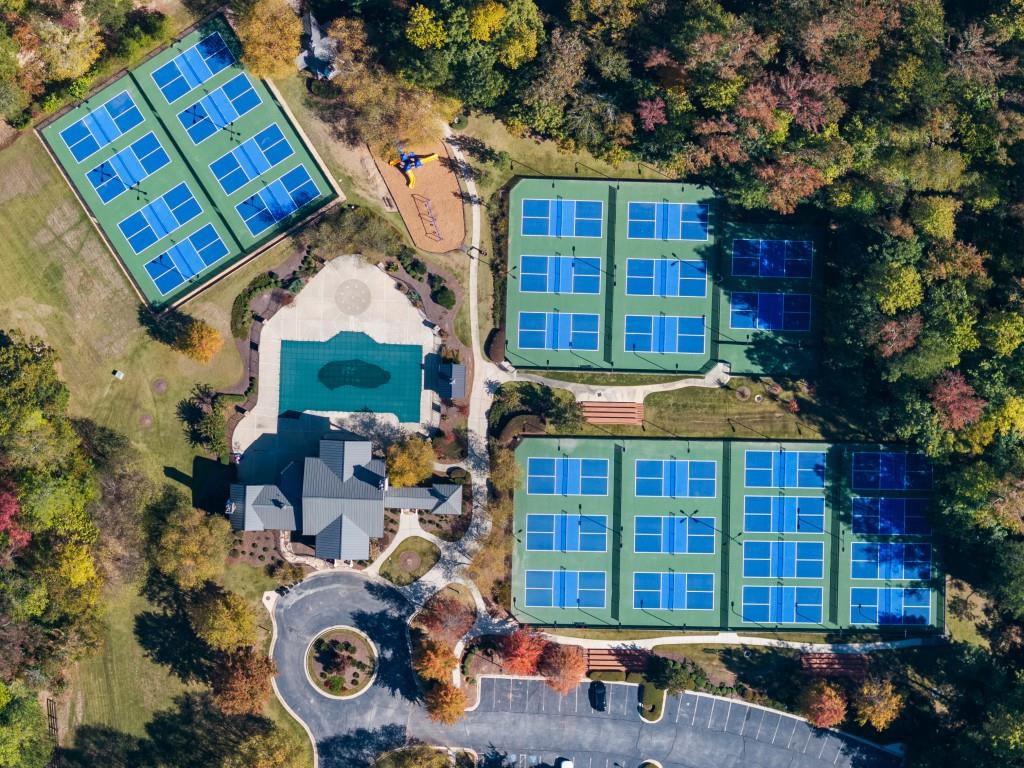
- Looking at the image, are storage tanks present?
No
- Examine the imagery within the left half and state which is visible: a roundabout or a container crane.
roundabout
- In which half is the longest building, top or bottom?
bottom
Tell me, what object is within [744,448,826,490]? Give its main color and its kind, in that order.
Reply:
blue sports court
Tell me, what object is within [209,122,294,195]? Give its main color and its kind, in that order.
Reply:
blue sports court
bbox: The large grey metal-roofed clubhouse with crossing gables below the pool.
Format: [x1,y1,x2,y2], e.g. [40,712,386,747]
[228,441,462,566]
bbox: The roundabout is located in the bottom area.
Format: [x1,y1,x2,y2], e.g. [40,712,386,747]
[304,625,378,699]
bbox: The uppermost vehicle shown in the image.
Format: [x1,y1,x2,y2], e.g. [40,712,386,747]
[593,682,607,712]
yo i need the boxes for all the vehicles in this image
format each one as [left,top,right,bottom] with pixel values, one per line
[561,760,573,768]
[593,682,607,712]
